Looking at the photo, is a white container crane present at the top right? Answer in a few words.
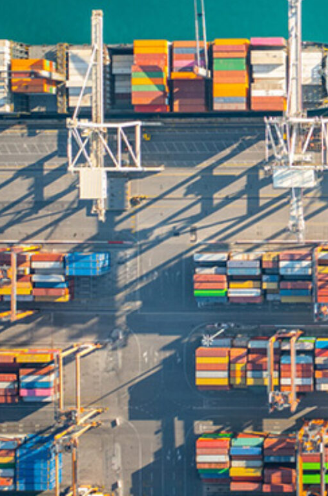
Yes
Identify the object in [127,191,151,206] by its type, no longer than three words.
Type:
work vehicle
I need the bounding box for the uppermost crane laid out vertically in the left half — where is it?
[70,8,170,219]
